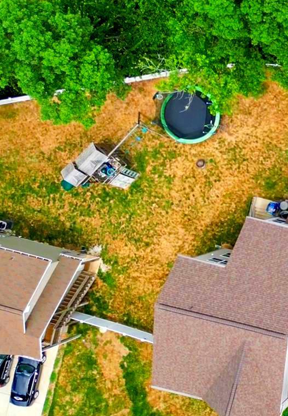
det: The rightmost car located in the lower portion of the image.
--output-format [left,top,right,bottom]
[10,353,49,407]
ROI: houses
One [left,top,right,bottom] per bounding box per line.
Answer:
[152,215,288,416]
[0,230,102,366]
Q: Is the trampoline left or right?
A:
right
